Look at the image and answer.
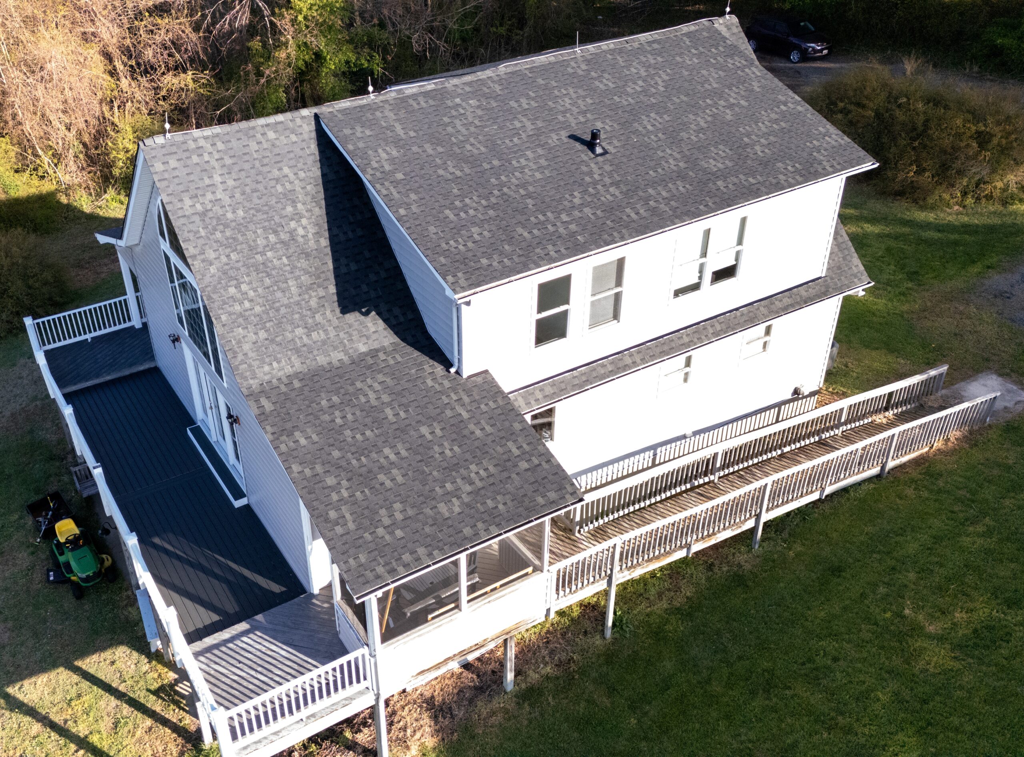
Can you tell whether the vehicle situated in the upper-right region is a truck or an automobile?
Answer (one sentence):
Looking closely, the vehicle situated in the upper-right region is an automobile.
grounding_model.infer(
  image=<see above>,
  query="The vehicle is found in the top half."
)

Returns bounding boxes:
[747,13,836,63]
